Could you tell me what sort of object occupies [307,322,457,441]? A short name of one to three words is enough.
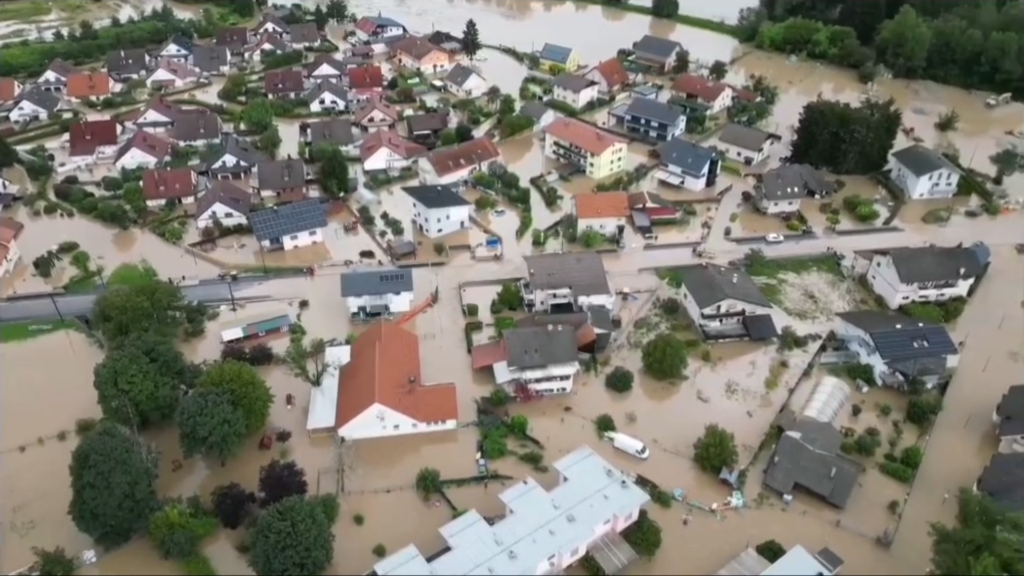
building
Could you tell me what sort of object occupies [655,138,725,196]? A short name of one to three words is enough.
house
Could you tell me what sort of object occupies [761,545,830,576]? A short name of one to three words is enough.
shed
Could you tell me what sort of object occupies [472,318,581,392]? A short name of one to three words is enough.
house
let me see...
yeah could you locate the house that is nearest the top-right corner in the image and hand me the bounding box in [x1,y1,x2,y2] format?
[889,145,963,202]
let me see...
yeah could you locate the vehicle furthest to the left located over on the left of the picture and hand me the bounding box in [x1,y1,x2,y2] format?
[218,267,240,280]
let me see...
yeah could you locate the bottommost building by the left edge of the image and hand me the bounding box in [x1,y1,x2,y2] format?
[0,226,35,293]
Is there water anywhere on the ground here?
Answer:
Yes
